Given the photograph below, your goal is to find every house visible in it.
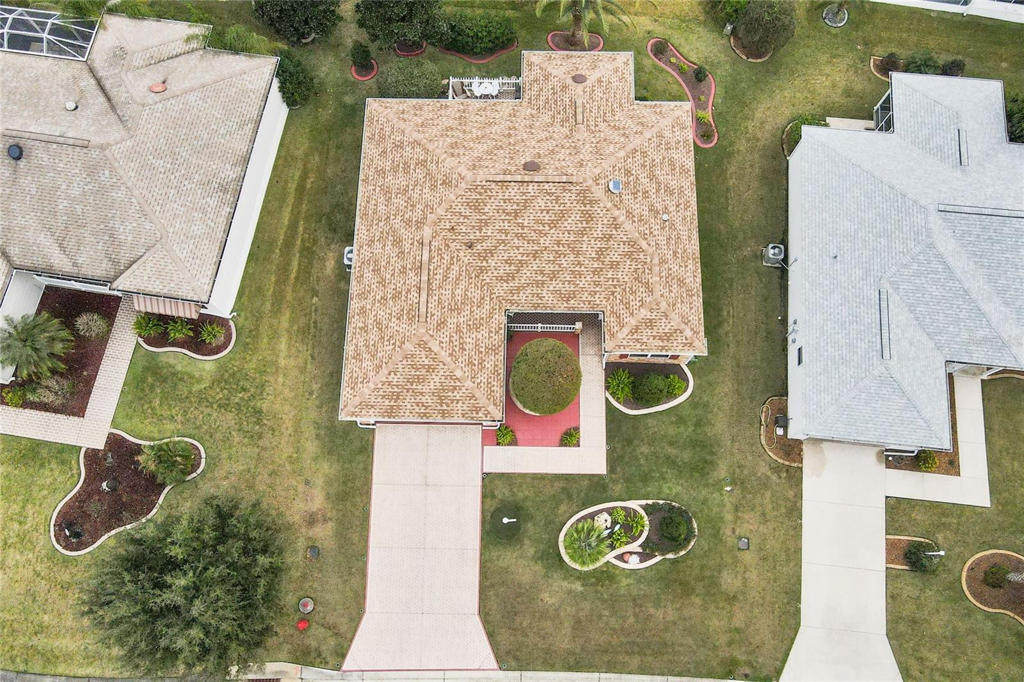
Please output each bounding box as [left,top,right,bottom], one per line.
[864,0,1024,26]
[0,10,288,388]
[785,69,1024,458]
[338,50,710,430]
